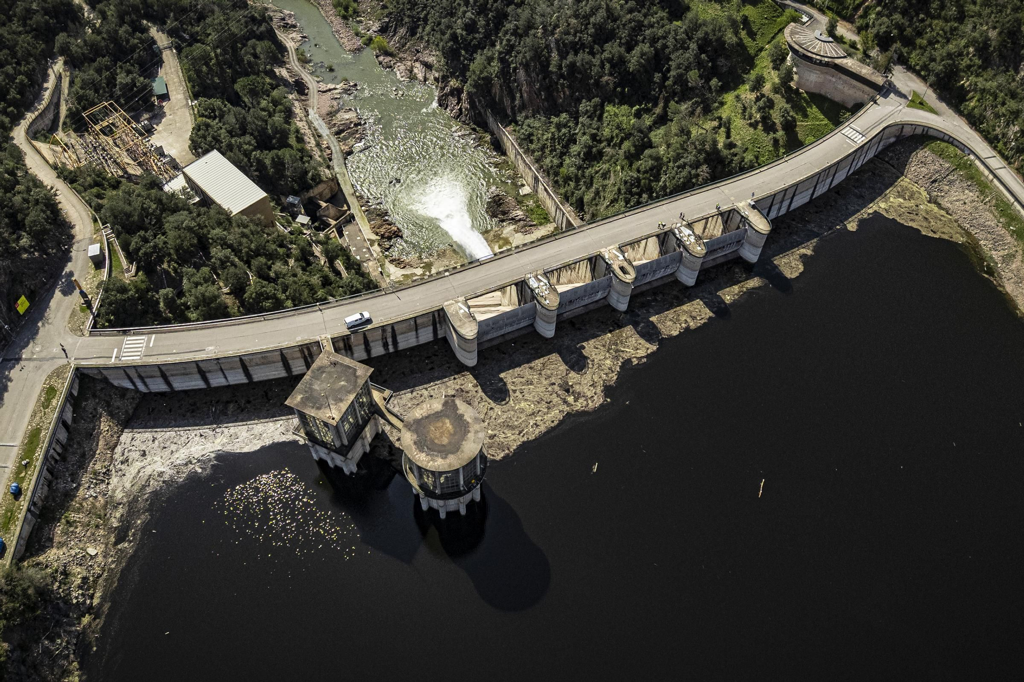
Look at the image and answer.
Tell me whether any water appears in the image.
Yes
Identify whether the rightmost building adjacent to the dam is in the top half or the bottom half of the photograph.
top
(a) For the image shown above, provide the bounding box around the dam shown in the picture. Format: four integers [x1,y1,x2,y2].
[76,93,1024,395]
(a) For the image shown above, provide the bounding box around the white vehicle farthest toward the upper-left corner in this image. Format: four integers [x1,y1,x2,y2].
[343,313,372,328]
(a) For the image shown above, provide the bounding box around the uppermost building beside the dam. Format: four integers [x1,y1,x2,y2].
[783,23,887,94]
